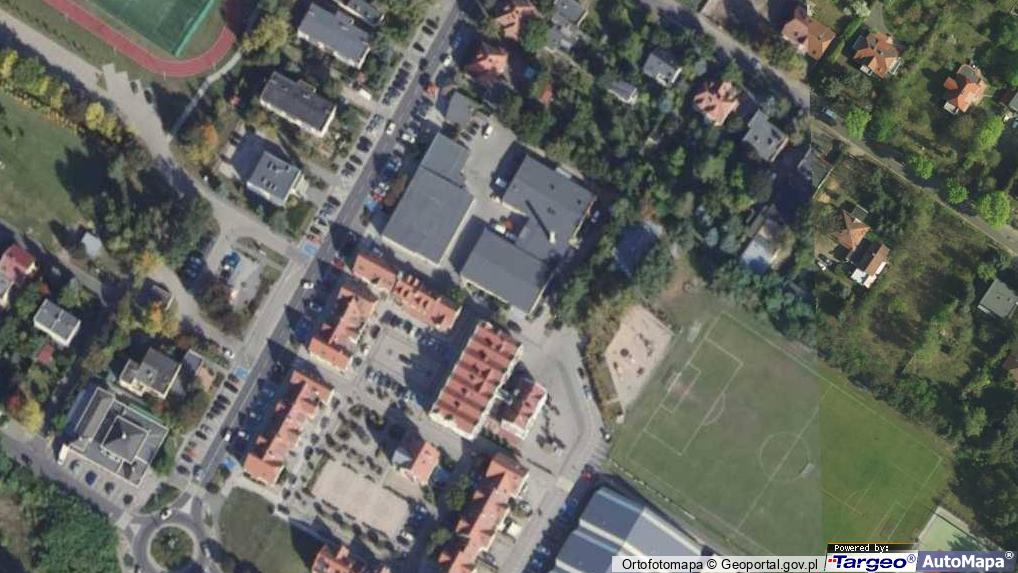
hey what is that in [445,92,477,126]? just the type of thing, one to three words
building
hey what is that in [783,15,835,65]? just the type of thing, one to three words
house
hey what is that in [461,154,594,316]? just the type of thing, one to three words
warehouse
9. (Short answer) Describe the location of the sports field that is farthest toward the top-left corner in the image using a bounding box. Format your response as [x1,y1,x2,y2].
[81,0,213,55]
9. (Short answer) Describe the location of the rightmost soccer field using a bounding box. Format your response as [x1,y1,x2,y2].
[606,297,955,573]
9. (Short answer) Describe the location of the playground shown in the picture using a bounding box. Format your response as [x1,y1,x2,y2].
[605,305,673,407]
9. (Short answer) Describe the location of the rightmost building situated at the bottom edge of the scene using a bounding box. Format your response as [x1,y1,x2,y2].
[550,487,705,573]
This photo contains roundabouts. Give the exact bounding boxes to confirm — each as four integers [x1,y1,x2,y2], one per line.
[131,498,211,573]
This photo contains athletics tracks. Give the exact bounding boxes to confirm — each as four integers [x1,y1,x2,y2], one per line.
[44,0,258,78]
